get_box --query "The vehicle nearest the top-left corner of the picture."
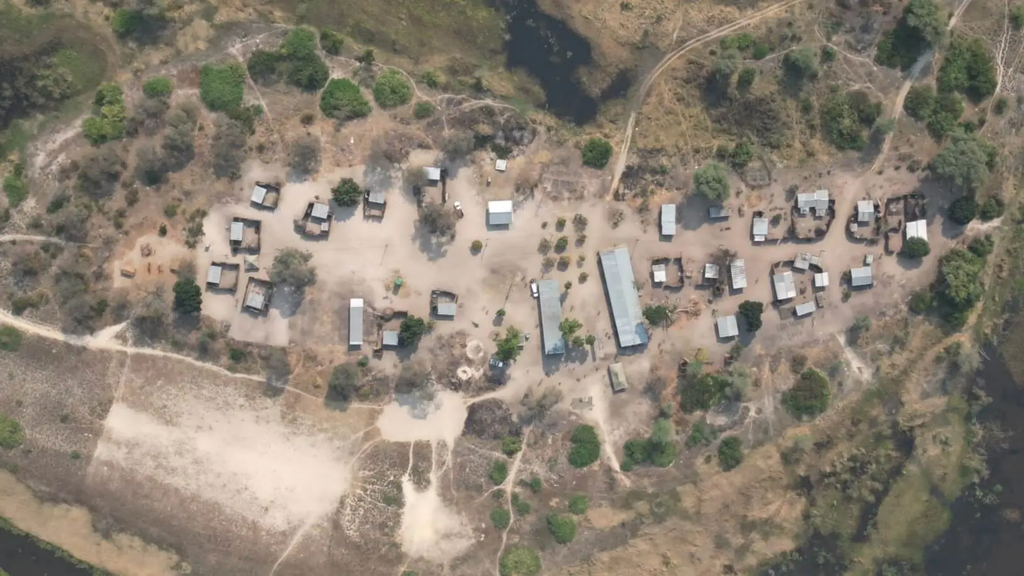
[453,201,465,219]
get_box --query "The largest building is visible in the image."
[599,246,647,348]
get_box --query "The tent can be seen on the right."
[609,362,627,390]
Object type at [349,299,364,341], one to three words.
house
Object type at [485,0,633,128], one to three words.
pond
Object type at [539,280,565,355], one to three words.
building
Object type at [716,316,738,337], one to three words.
house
